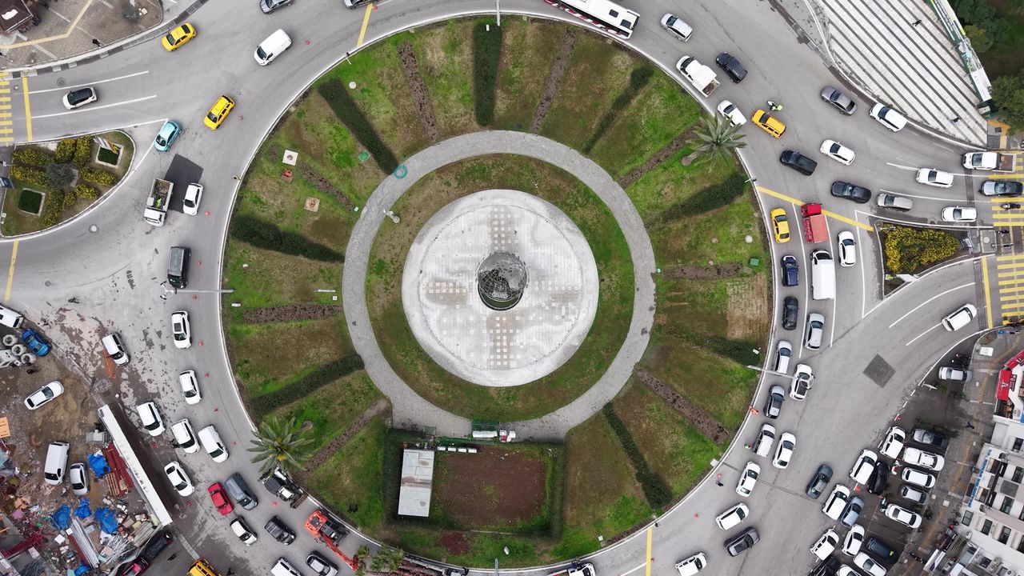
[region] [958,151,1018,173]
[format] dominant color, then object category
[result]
white truck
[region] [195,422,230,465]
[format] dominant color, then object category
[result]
white van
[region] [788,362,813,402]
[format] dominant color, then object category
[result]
white car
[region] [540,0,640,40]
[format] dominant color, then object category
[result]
white bus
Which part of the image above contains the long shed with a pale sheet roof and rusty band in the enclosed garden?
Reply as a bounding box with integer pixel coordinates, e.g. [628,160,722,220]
[398,446,436,516]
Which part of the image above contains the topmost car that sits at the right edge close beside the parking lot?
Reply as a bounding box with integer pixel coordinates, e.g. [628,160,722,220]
[937,303,980,333]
